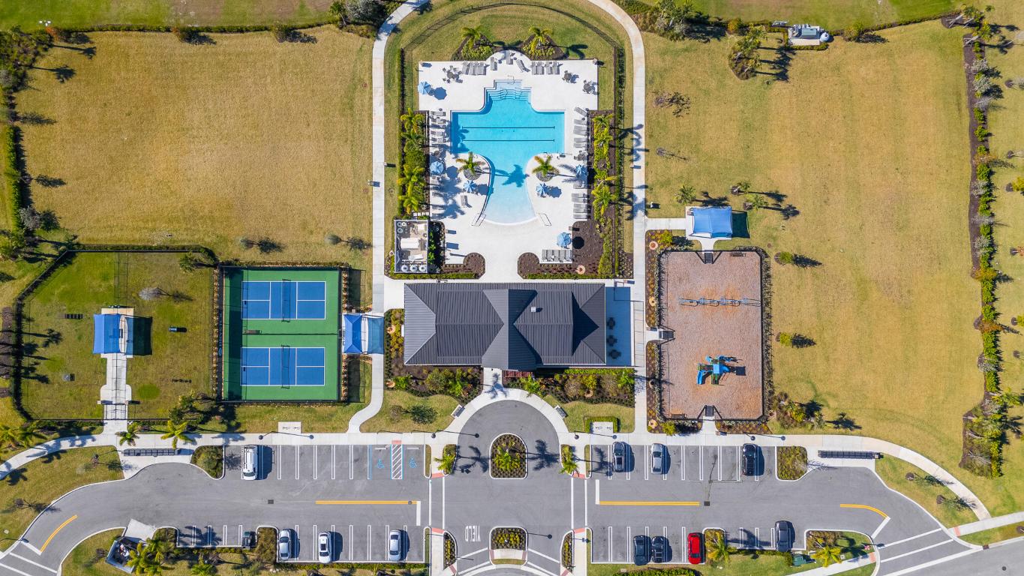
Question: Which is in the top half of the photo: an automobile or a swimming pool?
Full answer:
You can see a swimming pool in the top half of the photo.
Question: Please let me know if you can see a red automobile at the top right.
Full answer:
No, there's no red automobile to be seen at the top right.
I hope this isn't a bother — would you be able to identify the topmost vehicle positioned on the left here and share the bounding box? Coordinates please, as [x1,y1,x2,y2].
[242,444,260,480]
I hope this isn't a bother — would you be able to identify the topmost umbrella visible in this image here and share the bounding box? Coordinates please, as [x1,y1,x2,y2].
[418,81,431,95]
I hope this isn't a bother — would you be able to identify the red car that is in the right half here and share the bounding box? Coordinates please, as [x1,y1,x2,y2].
[687,531,703,563]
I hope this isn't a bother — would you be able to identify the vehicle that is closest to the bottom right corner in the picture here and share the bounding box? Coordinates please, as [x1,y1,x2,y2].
[775,519,790,552]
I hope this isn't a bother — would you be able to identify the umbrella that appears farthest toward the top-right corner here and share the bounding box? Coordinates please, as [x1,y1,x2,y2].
[574,163,588,177]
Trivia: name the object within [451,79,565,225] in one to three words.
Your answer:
swimming pool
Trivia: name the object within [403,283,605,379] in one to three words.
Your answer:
building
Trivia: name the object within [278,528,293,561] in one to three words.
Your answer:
car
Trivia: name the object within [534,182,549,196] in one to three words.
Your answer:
umbrella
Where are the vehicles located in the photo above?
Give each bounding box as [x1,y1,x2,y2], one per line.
[775,519,790,552]
[242,444,260,480]
[741,442,757,475]
[318,531,333,563]
[237,530,250,549]
[612,440,626,472]
[651,534,666,563]
[633,533,647,564]
[687,531,703,563]
[650,442,664,474]
[388,529,402,561]
[278,528,293,561]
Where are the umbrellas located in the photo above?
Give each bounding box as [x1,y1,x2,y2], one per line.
[418,81,431,95]
[430,159,444,174]
[534,182,549,196]
[558,232,571,246]
[462,178,476,192]
[574,163,588,177]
